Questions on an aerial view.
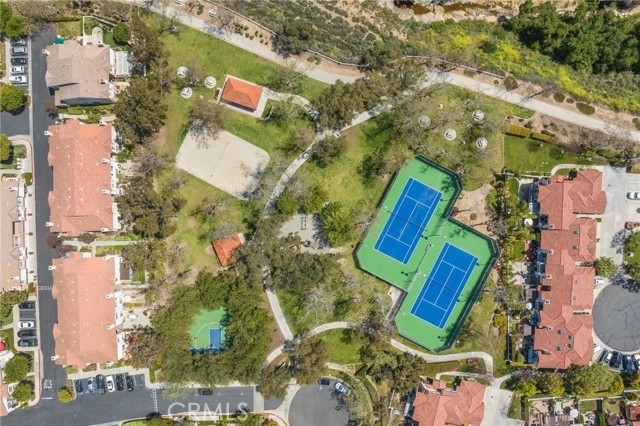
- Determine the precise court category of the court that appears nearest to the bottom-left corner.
basketball court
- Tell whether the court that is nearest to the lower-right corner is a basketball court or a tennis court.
tennis court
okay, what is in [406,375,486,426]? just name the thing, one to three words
house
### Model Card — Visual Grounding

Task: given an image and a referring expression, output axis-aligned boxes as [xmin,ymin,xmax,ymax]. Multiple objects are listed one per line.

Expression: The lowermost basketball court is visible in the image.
[184,302,235,352]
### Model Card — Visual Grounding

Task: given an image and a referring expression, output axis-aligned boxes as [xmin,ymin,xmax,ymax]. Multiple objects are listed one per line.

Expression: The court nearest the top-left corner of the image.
[175,122,270,200]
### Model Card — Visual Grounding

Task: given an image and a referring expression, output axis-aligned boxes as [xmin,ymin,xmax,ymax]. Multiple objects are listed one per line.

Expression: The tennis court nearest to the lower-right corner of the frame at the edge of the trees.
[396,217,492,349]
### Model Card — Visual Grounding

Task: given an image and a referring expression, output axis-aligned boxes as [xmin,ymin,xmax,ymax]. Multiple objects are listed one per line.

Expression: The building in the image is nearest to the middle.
[212,234,248,267]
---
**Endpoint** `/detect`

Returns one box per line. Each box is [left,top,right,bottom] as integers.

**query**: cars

[75,379,84,394]
[115,374,125,391]
[334,382,350,395]
[106,374,116,392]
[10,46,28,54]
[9,75,28,83]
[19,329,36,337]
[594,344,604,355]
[11,38,28,46]
[18,339,38,347]
[19,302,36,309]
[18,321,35,329]
[316,377,331,386]
[11,57,28,65]
[86,377,95,392]
[622,353,632,370]
[599,349,612,363]
[627,192,640,199]
[126,374,135,390]
[609,350,622,369]
[11,66,25,74]
[96,374,106,394]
